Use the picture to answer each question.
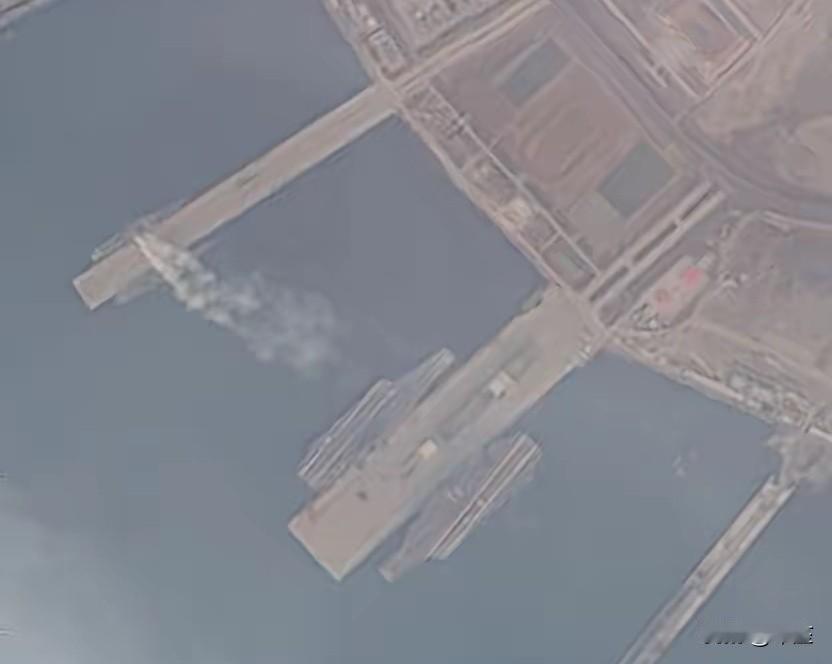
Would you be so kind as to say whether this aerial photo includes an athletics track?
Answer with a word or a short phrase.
Yes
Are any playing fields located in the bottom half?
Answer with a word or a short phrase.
No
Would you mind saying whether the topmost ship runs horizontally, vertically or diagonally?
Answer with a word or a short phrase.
diagonally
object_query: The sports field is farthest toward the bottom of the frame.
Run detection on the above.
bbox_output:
[569,191,623,249]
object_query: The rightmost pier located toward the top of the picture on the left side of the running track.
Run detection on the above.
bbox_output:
[72,77,401,310]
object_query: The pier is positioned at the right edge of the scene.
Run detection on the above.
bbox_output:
[617,475,798,664]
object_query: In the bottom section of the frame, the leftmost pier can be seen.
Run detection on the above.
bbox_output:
[288,283,600,582]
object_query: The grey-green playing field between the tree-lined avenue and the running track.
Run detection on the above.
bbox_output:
[500,41,572,105]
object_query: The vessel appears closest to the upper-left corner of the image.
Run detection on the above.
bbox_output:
[89,212,162,264]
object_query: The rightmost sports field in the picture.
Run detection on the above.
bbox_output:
[599,143,677,215]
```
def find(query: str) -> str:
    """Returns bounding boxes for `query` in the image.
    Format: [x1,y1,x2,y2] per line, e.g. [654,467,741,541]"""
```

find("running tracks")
[519,91,612,182]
